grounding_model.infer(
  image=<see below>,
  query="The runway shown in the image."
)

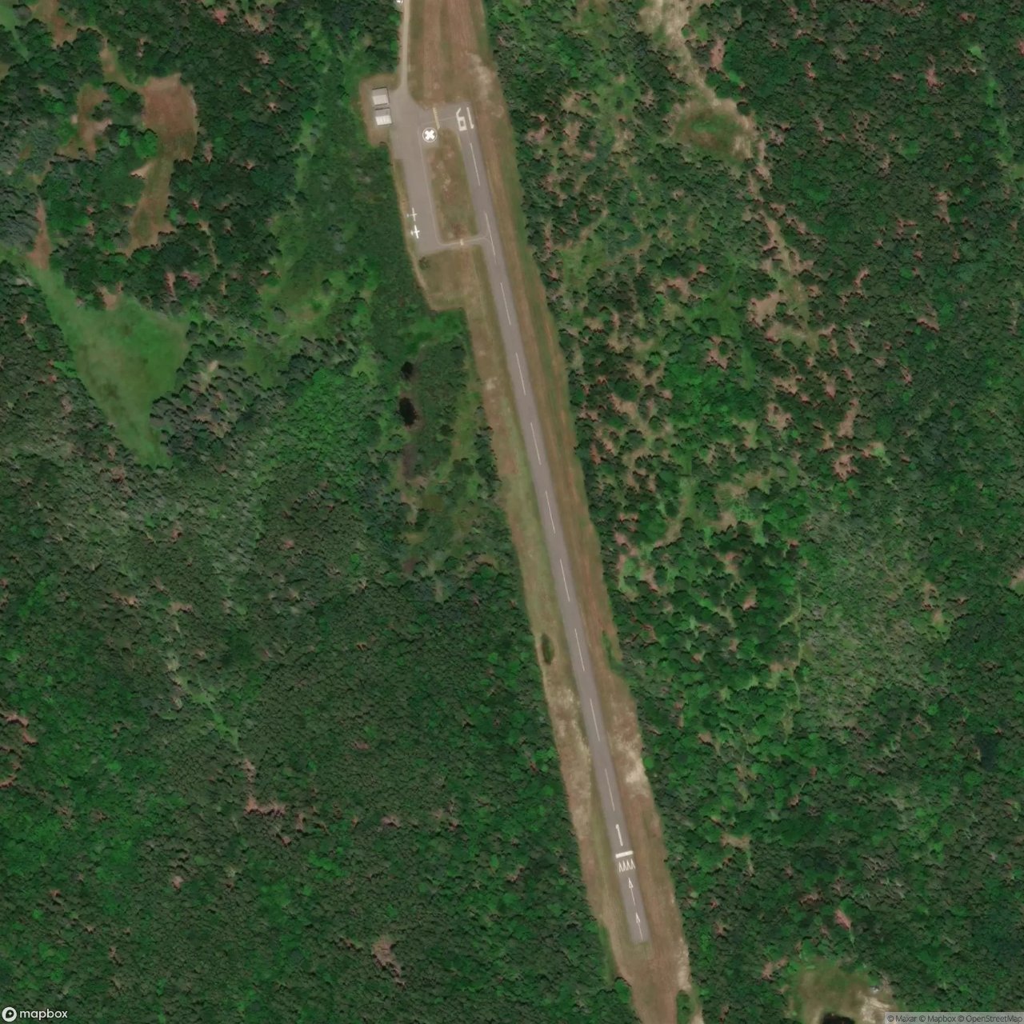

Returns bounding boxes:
[453,102,650,943]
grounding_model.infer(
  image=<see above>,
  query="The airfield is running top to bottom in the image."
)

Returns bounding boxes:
[360,0,705,1024]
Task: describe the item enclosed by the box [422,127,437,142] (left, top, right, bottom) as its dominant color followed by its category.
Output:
white helipad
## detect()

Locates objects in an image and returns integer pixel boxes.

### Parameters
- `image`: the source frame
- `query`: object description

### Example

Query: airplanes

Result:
[408,208,417,221]
[410,225,419,237]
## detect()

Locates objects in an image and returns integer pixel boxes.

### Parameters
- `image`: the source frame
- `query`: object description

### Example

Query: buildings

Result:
[373,88,389,106]
[376,108,393,126]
